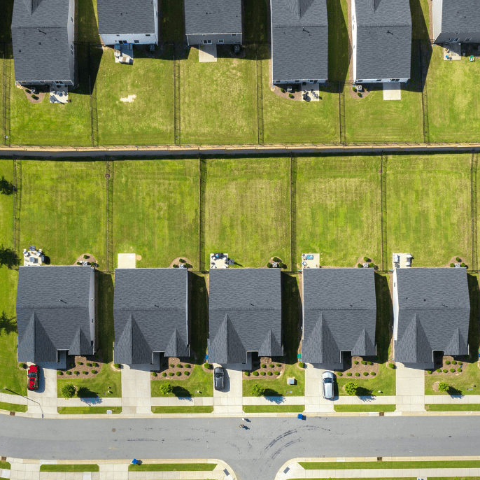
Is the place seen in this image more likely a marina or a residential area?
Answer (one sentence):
It's a residential area.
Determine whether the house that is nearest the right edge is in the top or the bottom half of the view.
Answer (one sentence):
The house that is nearest the right edge is in the top half of the image.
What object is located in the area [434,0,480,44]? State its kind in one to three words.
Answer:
house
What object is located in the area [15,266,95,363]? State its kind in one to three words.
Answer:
house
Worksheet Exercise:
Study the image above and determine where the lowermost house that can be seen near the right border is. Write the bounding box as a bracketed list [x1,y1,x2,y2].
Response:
[393,266,470,364]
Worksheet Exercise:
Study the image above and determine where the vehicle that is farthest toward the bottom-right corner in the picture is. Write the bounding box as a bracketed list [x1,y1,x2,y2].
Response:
[322,371,335,398]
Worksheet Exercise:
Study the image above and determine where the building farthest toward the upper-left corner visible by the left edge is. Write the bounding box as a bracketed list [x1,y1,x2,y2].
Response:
[10,0,72,85]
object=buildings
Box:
[355,0,413,84]
[301,268,376,364]
[10,0,72,85]
[393,266,470,364]
[96,0,156,45]
[434,0,480,44]
[185,0,241,44]
[15,266,95,363]
[208,268,282,364]
[272,0,330,84]
[113,268,189,364]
